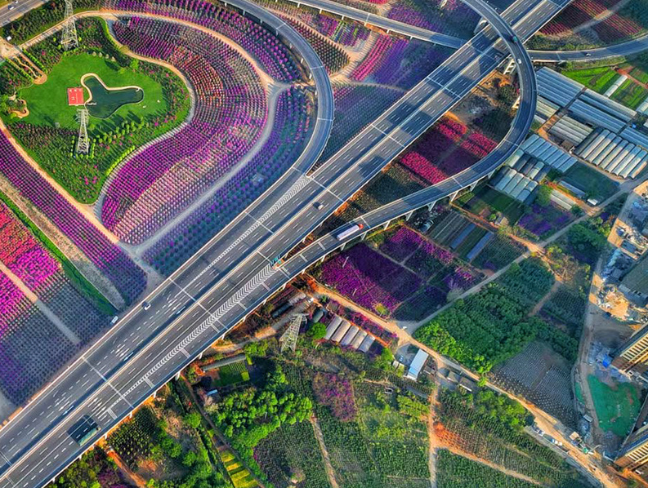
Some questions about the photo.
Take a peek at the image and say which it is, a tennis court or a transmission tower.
transmission tower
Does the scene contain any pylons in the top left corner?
Yes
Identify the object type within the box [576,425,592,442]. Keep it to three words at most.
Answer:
vehicle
